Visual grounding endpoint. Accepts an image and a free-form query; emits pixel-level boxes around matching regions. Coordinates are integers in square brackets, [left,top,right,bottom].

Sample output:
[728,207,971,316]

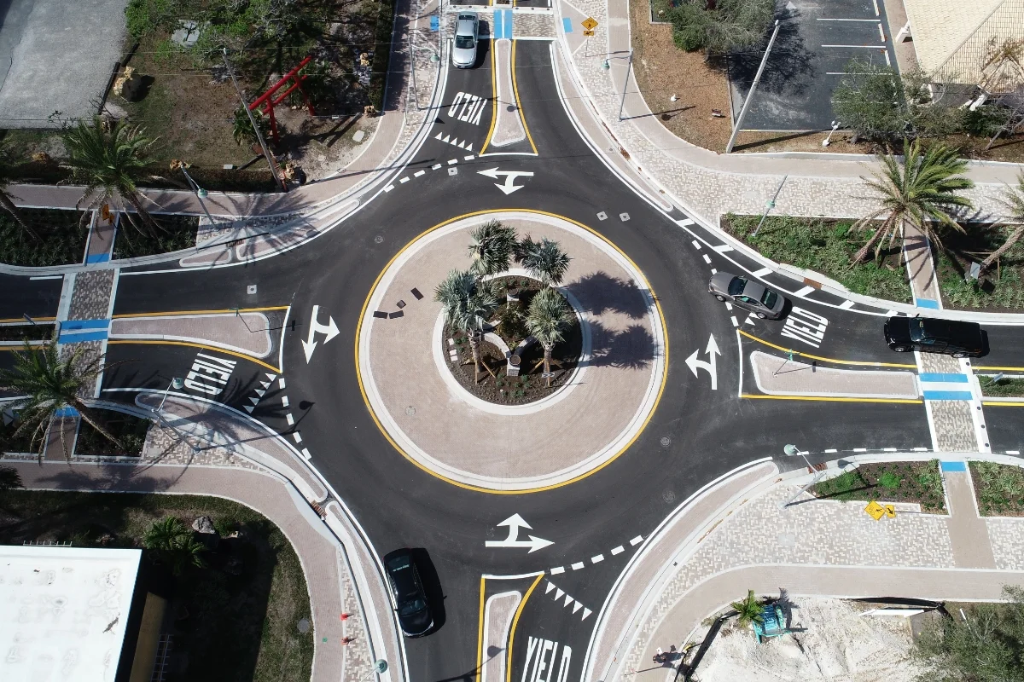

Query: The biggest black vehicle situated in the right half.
[882,311,991,360]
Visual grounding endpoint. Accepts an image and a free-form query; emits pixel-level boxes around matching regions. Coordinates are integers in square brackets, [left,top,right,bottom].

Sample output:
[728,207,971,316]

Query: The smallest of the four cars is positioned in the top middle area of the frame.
[449,10,481,65]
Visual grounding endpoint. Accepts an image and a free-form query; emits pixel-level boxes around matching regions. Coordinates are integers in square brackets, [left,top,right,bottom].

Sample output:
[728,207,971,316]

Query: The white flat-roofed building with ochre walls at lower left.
[0,547,155,682]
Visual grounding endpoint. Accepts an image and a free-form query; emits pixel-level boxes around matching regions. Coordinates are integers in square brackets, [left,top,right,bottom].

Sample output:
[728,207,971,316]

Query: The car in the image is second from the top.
[708,270,788,322]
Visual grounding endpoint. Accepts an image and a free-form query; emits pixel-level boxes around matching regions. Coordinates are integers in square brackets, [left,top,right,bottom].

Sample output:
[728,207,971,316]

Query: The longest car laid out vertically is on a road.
[381,544,435,639]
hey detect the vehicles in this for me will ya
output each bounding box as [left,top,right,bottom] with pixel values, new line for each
[882,311,991,360]
[381,544,435,639]
[708,270,788,322]
[449,10,481,65]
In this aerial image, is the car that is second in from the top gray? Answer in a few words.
Yes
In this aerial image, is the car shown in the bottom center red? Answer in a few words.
No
